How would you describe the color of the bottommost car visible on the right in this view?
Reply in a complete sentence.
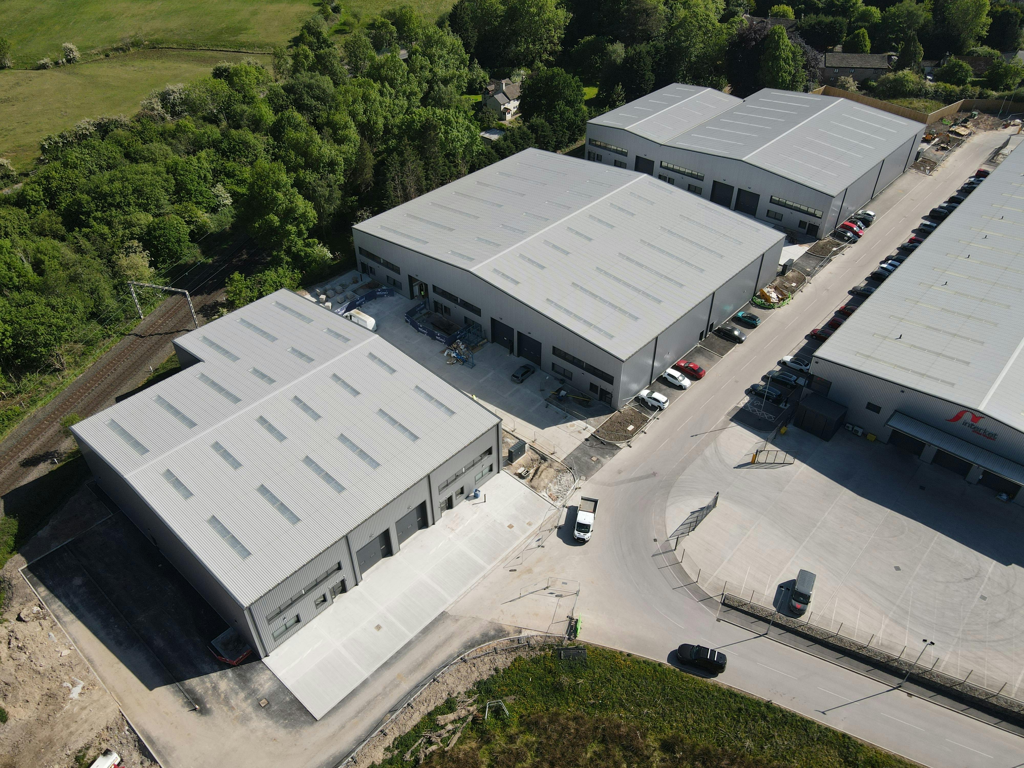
The bottommost car visible on the right looks black in the image.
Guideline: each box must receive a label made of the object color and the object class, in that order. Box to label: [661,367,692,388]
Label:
white car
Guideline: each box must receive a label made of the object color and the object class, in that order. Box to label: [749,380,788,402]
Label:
black car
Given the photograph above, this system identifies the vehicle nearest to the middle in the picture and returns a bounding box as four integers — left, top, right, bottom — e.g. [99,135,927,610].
[509,365,535,385]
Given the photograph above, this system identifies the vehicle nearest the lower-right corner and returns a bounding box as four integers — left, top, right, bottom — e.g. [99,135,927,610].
[787,566,817,616]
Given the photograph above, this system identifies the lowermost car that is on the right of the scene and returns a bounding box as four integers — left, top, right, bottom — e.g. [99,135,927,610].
[676,647,729,680]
